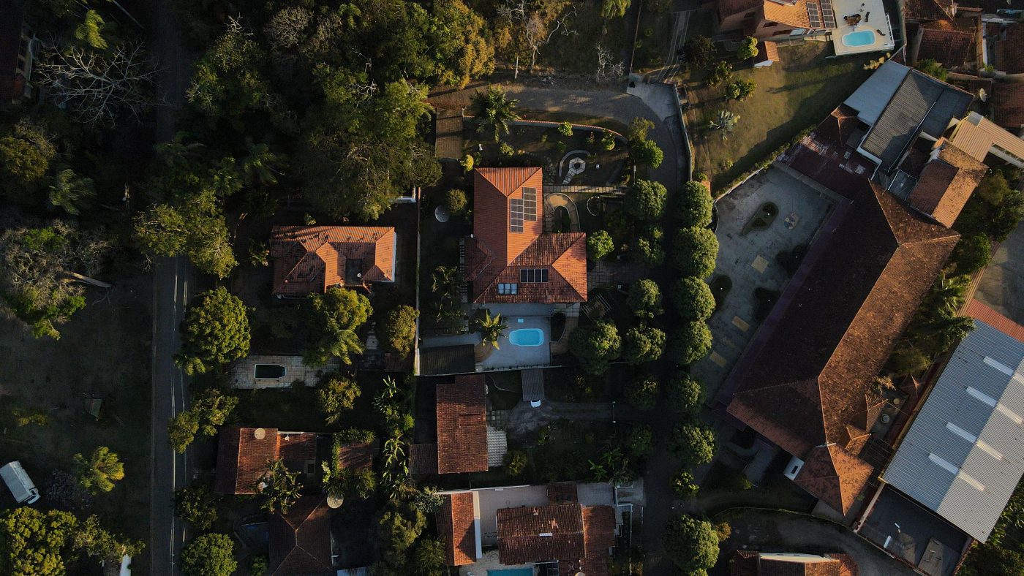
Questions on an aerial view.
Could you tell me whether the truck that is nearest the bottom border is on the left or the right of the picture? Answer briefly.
left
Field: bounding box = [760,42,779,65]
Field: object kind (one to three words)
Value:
shed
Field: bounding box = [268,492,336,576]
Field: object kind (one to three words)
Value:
house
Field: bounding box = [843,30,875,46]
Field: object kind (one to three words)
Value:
swimming pool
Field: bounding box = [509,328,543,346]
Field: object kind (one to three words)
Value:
swimming pool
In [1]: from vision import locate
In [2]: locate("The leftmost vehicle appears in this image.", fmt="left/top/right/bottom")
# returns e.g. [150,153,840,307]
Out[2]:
[0,459,42,505]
